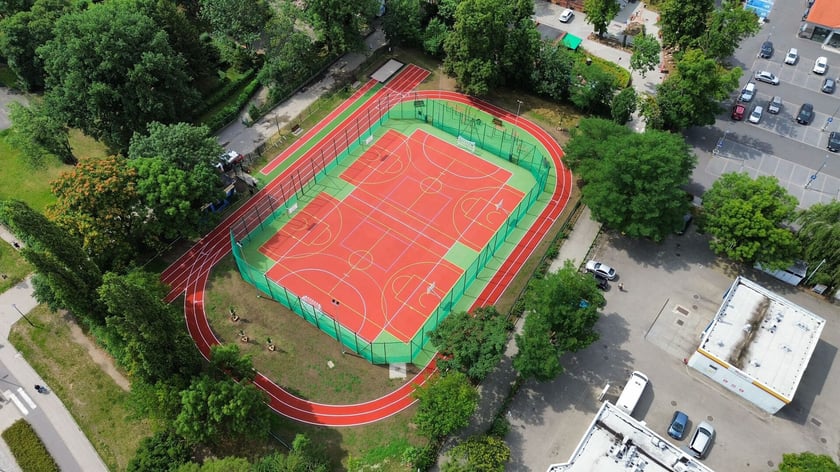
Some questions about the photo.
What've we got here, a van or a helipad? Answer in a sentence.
It is a van that can be seen here.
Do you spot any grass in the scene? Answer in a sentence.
Yes, grass can be seen from above here.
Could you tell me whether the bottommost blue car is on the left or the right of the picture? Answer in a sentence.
The bottommost blue car appears in the right half of the scene.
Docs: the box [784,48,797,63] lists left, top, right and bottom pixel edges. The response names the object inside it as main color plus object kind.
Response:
white vehicle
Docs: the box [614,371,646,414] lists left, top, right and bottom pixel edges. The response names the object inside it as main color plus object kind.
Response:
white van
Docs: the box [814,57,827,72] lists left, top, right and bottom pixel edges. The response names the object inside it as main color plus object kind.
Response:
white vehicle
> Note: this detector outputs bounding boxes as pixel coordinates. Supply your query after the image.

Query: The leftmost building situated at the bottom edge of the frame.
[554,399,717,472]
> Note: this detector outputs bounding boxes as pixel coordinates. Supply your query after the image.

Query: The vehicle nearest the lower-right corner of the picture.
[691,421,714,463]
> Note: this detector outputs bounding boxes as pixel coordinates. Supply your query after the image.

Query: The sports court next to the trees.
[235,101,555,384]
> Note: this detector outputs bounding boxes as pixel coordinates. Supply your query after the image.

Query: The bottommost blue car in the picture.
[667,409,690,441]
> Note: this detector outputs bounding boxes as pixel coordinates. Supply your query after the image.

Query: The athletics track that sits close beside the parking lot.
[155,63,570,422]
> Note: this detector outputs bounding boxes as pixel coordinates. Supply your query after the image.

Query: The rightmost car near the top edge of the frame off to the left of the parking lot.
[560,7,573,21]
